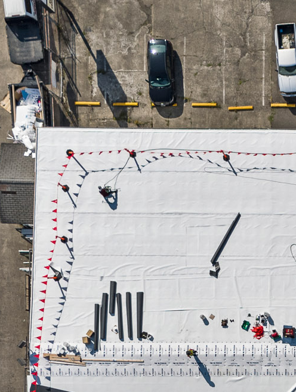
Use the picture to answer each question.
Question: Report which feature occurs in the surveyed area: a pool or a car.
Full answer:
Of the two, only a car appears.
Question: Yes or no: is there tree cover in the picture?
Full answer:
No, the scene doesn't show any tree cover.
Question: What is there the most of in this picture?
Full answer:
The bulk of the photo consists of buildings.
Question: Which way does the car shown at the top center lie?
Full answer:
I'd say the car shown at the top center is aligned vertically in the picture.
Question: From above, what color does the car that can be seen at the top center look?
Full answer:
In this view, the car that can be seen at the top center is black.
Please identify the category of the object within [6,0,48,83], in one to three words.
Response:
truck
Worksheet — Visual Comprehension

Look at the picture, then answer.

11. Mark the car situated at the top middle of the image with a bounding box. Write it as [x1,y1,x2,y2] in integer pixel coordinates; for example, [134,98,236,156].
[145,38,178,108]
